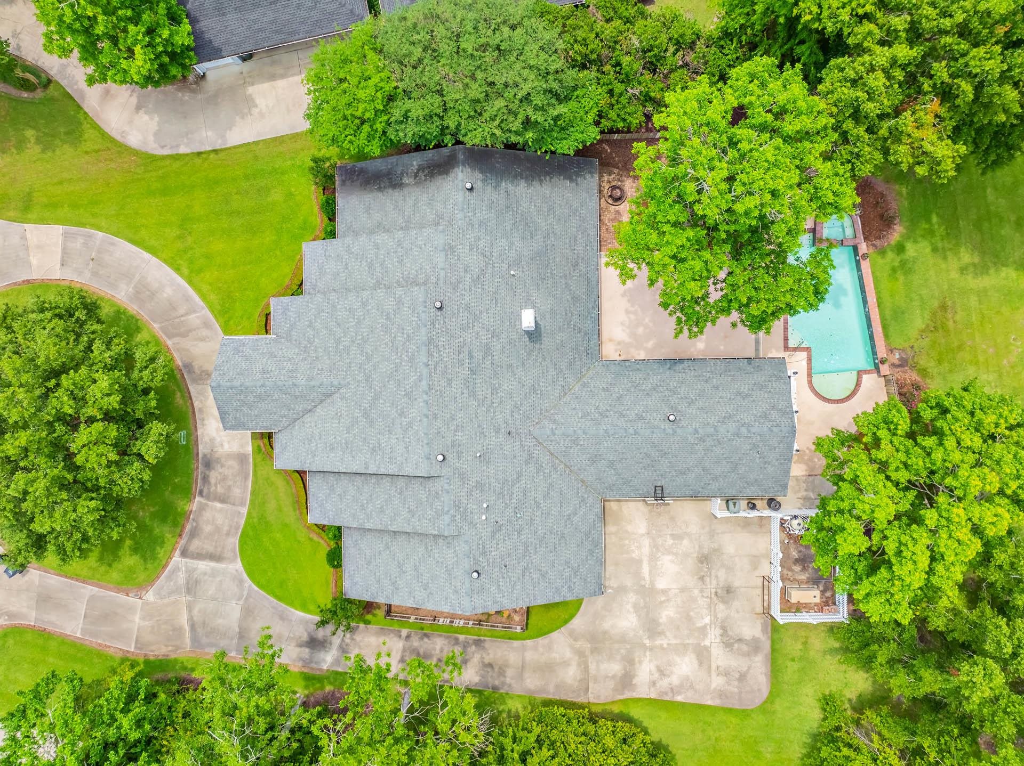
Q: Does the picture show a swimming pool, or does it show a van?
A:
swimming pool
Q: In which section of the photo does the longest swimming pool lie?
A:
right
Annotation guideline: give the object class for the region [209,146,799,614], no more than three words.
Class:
house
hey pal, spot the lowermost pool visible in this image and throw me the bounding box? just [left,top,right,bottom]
[784,229,880,404]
